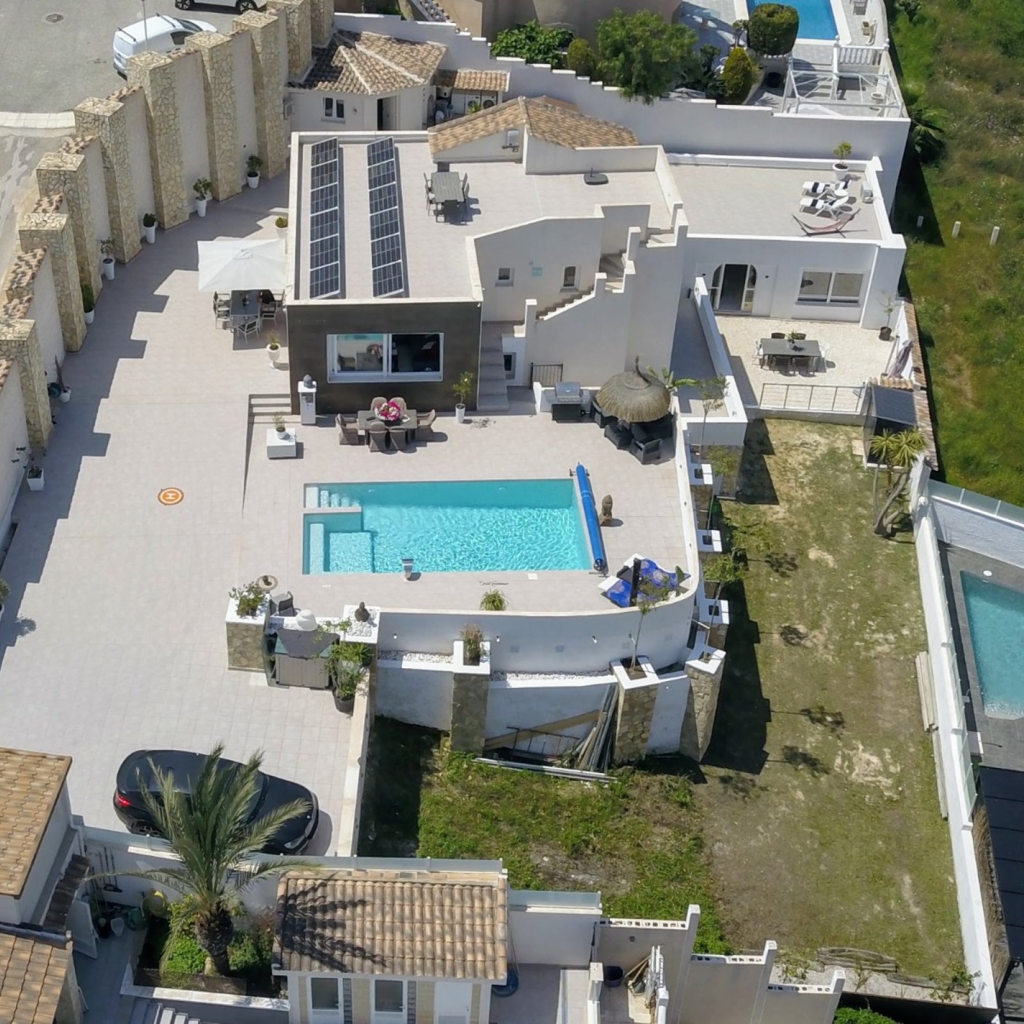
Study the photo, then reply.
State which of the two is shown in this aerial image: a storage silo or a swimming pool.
swimming pool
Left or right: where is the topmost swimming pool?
right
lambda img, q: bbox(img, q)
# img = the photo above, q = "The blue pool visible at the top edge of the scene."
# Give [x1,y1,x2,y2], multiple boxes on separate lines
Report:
[740,0,851,47]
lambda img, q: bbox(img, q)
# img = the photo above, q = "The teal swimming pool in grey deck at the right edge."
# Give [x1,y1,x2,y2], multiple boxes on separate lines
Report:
[962,572,1024,721]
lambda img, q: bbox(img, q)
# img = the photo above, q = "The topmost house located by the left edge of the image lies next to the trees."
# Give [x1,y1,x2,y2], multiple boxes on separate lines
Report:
[0,730,102,927]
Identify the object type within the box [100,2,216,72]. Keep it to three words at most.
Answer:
van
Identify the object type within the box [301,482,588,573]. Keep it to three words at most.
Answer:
swimming pool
